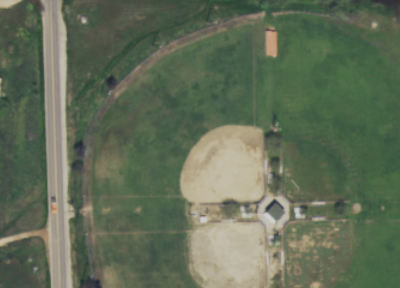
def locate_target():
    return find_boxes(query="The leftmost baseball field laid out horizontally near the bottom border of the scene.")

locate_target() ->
[95,222,265,288]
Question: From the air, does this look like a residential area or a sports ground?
sports ground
